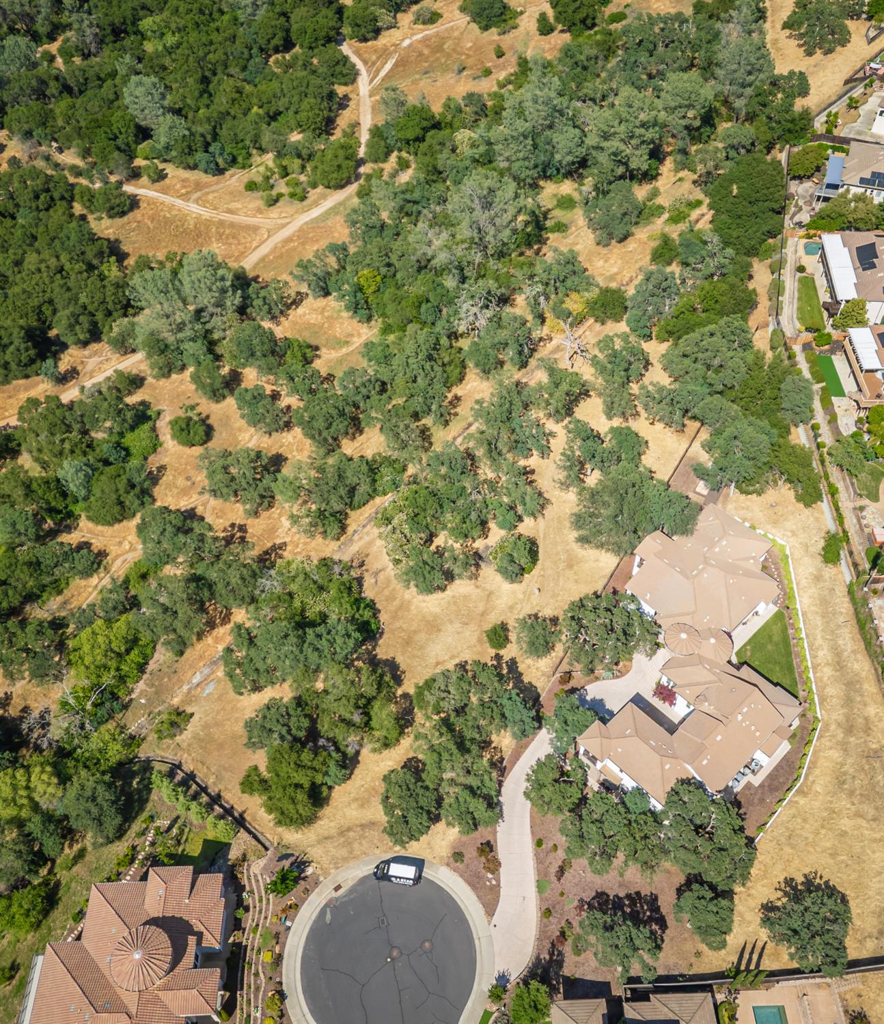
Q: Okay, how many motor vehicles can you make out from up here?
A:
1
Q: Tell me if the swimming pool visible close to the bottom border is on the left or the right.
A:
right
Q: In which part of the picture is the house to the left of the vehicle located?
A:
bottom left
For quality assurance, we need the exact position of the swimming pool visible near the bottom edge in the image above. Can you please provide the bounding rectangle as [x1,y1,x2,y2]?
[752,1004,789,1024]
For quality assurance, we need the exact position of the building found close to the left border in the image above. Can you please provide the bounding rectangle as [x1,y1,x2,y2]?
[14,865,232,1024]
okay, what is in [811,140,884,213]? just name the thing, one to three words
house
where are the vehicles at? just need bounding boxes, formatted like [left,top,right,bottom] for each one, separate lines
[370,859,422,886]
